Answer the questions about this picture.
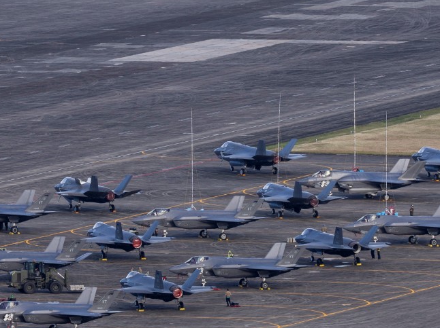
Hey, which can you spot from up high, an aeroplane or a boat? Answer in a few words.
aeroplane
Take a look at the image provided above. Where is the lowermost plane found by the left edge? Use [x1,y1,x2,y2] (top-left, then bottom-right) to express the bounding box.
[0,283,130,328]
